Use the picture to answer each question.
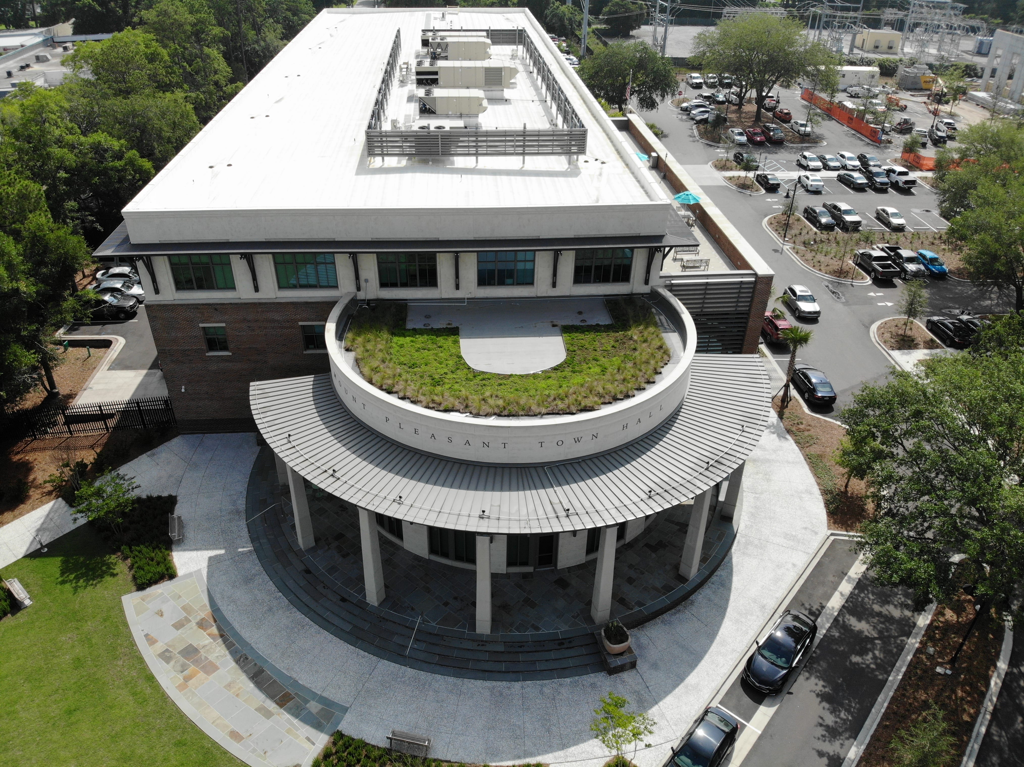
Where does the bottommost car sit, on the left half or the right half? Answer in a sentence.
You can find the bottommost car on the right side of the picture.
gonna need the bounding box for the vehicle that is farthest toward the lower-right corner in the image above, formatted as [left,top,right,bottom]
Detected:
[743,605,821,692]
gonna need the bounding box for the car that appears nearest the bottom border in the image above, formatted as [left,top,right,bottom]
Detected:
[660,705,740,767]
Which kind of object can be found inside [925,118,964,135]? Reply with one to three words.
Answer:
vehicle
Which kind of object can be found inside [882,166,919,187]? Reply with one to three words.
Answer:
truck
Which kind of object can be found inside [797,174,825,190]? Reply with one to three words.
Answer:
car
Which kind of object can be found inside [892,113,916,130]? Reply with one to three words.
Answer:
work vehicle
